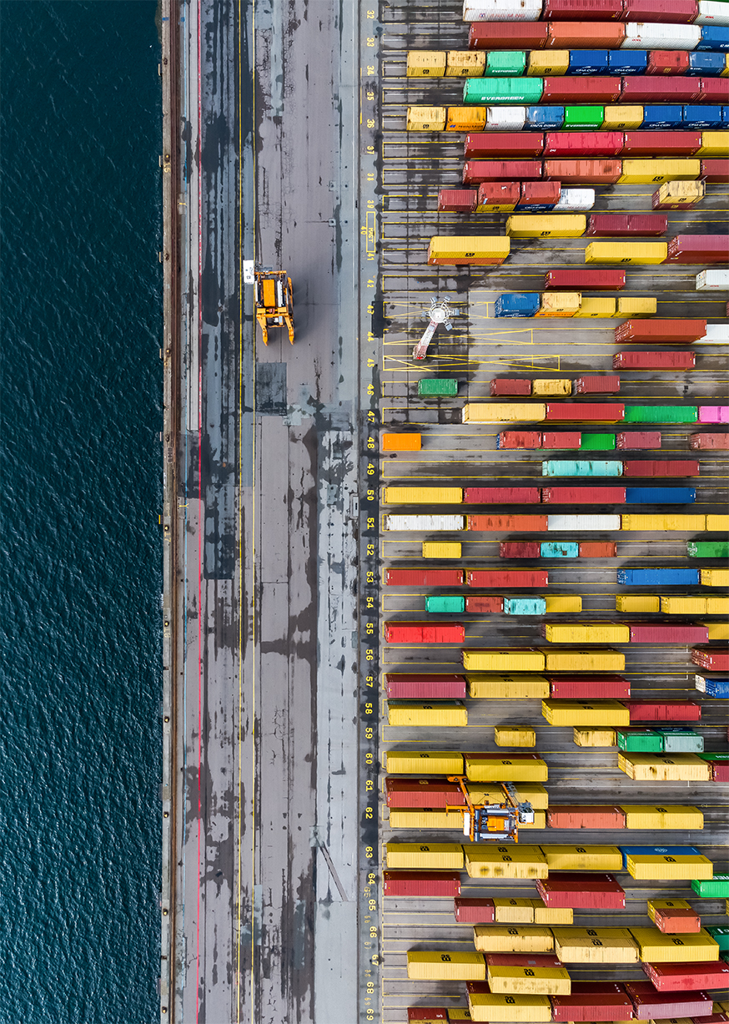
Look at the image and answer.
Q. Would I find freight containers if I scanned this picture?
Yes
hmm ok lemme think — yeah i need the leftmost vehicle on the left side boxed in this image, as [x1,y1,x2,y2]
[241,259,296,347]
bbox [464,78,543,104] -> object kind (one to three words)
shipping container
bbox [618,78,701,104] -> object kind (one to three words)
shipping container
